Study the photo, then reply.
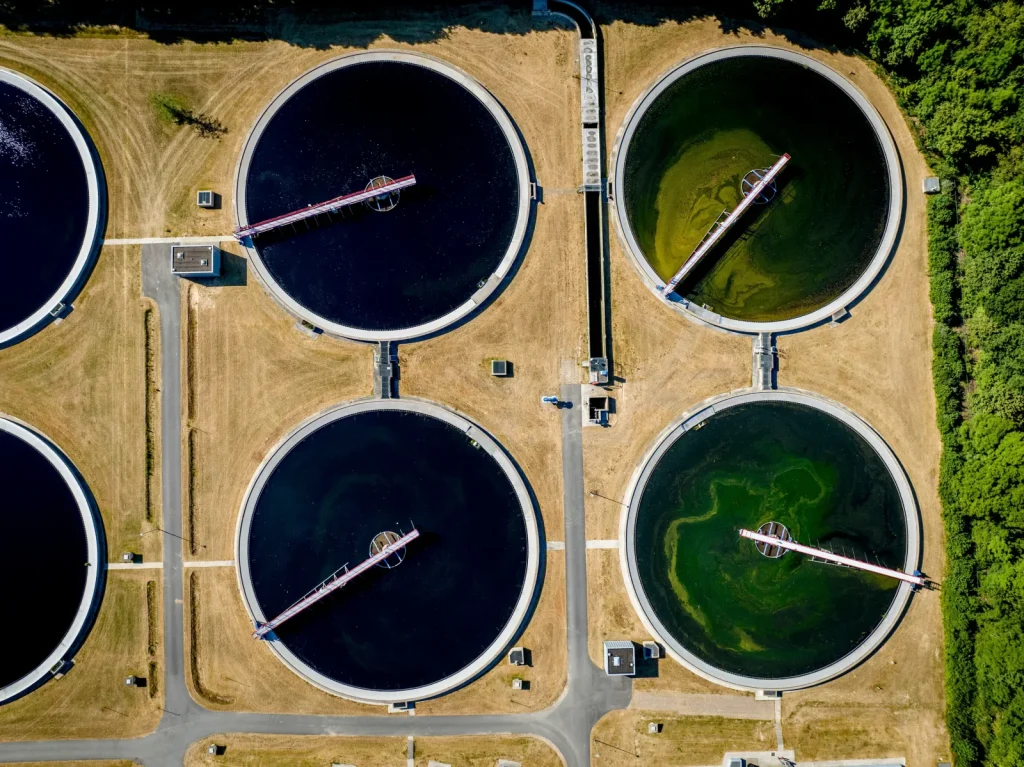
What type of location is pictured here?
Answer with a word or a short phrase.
industrial area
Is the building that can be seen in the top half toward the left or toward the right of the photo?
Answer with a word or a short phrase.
left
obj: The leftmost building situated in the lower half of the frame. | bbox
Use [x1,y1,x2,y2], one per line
[605,641,635,676]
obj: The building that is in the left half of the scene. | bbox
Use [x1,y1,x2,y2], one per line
[171,245,221,276]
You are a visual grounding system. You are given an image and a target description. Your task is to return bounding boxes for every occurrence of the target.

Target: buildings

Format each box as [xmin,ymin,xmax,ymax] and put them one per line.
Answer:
[605,641,635,676]
[727,755,744,767]
[171,245,221,276]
